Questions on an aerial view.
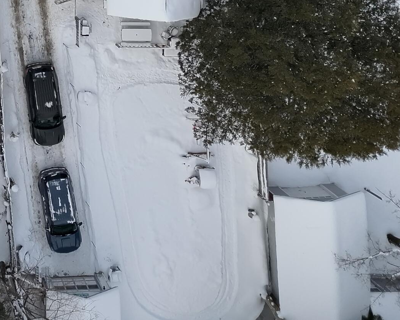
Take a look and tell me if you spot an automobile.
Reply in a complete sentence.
Yes, there's an automobile here.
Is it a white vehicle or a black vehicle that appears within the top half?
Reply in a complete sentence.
The feature located within the top half is a black vehicle.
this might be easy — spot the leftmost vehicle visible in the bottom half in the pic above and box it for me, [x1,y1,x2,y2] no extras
[37,165,83,252]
